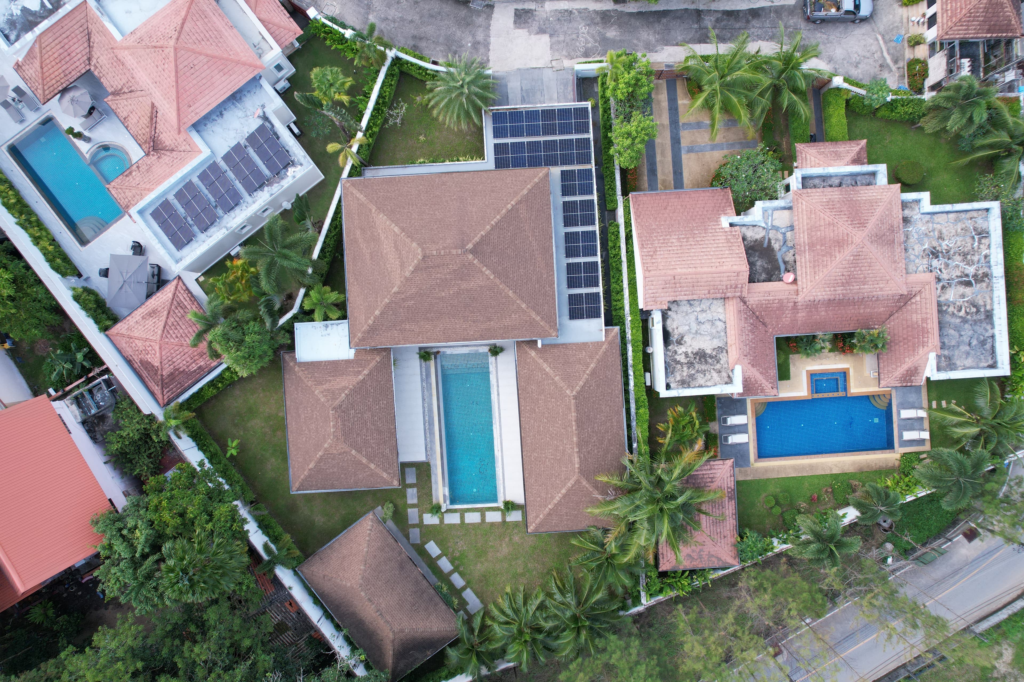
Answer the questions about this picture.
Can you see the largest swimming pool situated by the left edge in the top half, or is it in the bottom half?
top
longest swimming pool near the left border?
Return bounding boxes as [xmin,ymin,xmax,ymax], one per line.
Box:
[6,114,124,246]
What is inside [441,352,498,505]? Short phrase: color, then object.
blue swimming pool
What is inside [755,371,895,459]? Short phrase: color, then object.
blue swimming pool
